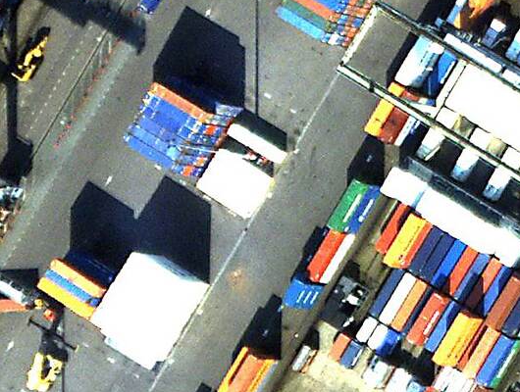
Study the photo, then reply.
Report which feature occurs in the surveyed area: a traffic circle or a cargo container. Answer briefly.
cargo container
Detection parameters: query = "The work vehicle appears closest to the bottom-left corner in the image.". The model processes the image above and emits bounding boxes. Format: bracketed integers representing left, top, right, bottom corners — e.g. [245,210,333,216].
[17,328,73,392]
